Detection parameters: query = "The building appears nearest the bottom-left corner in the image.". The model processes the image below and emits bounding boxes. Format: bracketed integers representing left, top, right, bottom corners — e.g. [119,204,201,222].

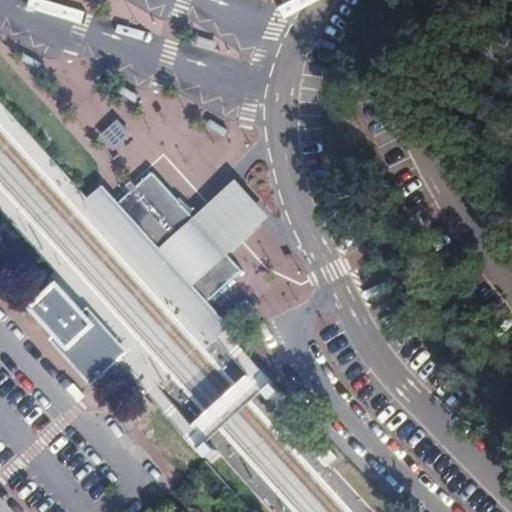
[26,282,124,382]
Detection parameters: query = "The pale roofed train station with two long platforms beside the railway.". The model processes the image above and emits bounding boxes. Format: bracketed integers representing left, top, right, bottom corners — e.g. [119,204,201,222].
[0,103,373,512]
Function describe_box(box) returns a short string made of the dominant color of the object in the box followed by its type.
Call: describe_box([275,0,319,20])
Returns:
white bus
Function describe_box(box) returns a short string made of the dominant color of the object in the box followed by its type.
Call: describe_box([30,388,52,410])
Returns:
white car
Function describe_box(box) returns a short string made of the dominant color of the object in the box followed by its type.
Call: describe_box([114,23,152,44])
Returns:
white vehicle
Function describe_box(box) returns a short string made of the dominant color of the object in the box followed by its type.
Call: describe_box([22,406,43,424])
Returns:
white car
